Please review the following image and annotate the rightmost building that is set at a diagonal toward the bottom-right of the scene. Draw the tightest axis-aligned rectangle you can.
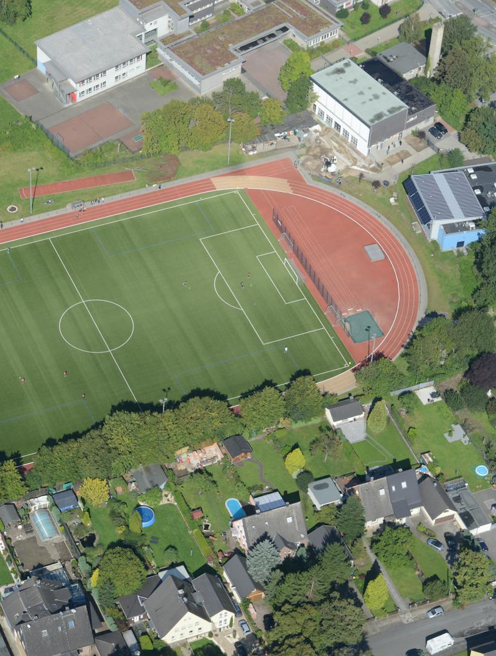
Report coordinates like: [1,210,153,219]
[443,477,493,538]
